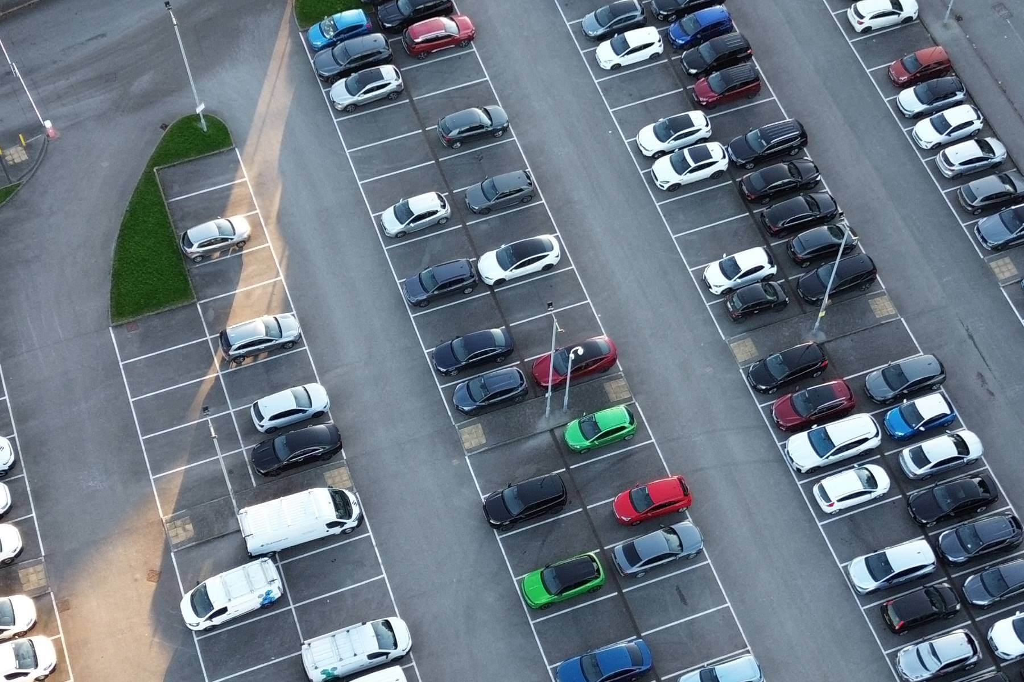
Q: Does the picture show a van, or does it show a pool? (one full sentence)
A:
I can see a van in this picture.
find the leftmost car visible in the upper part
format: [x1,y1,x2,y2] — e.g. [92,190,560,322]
[178,216,252,261]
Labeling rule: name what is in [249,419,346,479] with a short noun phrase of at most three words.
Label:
car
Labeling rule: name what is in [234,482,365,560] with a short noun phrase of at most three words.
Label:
van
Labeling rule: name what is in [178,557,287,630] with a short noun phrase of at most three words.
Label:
van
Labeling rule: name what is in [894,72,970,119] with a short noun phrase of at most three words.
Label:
car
